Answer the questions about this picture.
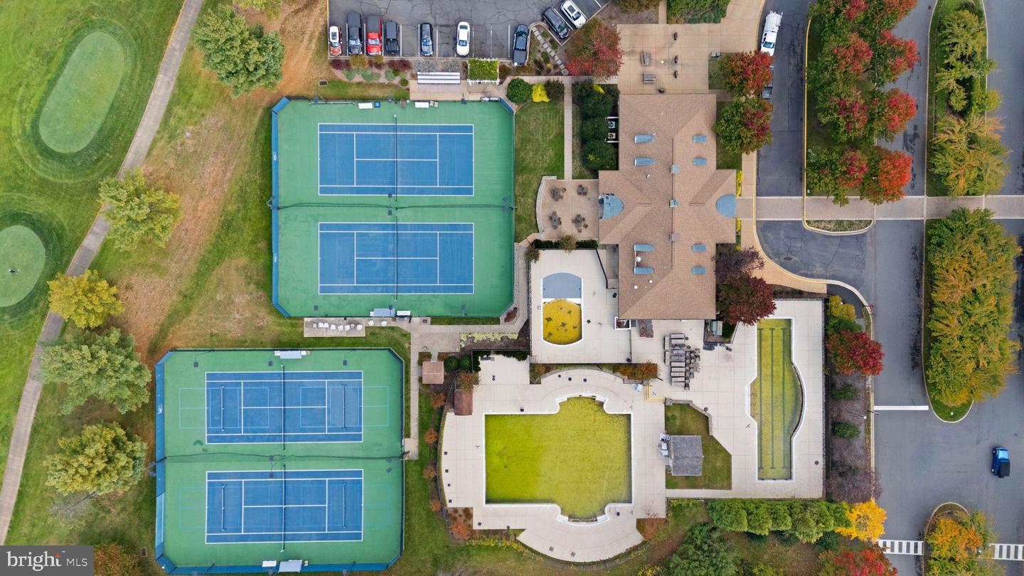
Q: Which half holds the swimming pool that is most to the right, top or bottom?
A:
bottom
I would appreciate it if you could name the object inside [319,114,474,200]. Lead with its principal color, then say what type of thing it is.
blue tennis court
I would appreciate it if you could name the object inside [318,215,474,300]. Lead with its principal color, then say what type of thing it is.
blue tennis court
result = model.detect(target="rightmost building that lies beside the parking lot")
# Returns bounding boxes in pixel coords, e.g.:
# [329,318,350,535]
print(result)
[598,94,736,319]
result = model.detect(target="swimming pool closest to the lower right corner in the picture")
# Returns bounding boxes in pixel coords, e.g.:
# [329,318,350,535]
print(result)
[748,316,805,482]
